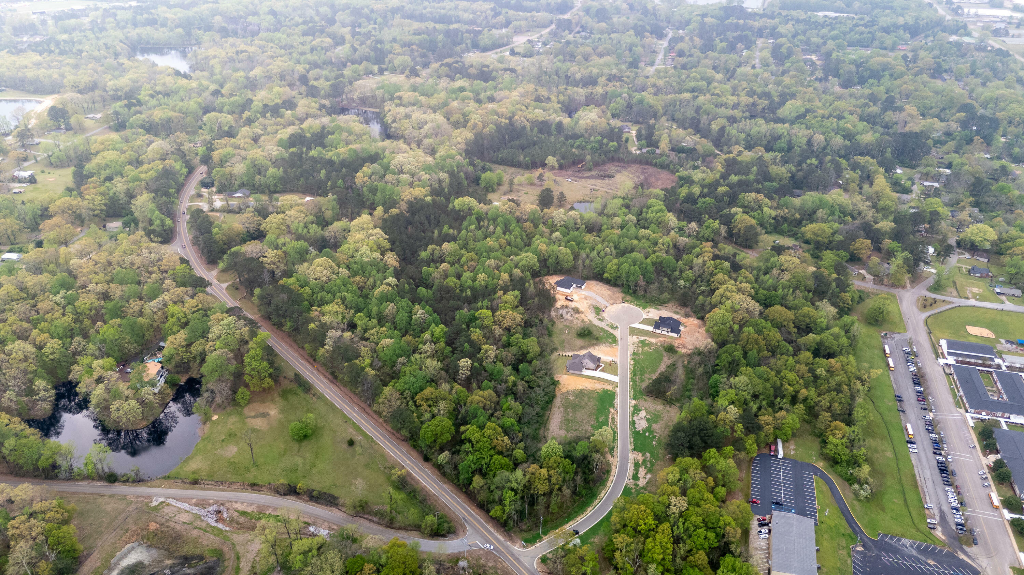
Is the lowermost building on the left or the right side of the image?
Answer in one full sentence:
It is on the right.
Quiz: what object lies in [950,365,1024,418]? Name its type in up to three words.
building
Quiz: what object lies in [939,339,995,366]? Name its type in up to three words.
building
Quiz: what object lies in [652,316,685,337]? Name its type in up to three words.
house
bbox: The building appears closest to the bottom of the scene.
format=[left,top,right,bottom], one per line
[769,514,831,575]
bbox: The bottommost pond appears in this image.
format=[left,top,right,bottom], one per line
[20,376,203,480]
